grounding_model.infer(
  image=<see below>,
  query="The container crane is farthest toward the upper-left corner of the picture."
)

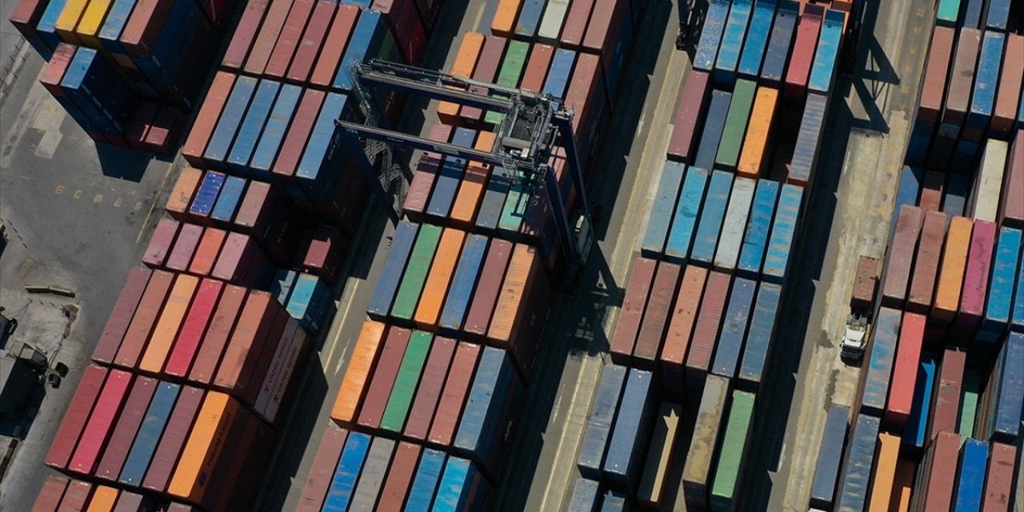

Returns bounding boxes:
[330,47,601,299]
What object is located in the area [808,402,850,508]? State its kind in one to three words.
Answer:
shipping container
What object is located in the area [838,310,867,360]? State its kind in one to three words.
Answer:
truck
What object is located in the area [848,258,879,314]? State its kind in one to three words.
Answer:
shipping container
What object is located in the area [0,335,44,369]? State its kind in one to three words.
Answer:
trailer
